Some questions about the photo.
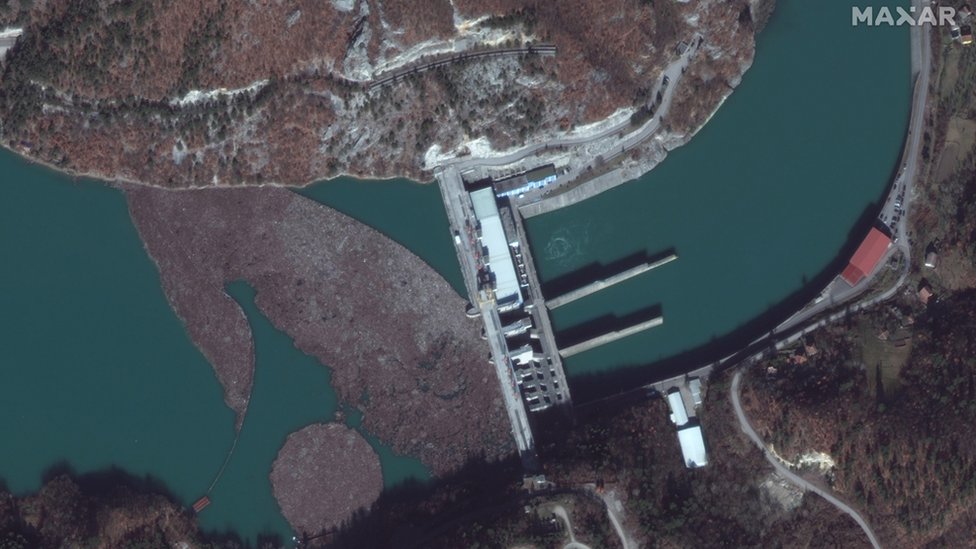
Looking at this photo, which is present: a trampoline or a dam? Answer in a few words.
dam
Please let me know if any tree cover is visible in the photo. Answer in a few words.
Yes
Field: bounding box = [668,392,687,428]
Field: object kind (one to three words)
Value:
building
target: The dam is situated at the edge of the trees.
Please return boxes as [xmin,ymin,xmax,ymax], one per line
[437,170,568,479]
